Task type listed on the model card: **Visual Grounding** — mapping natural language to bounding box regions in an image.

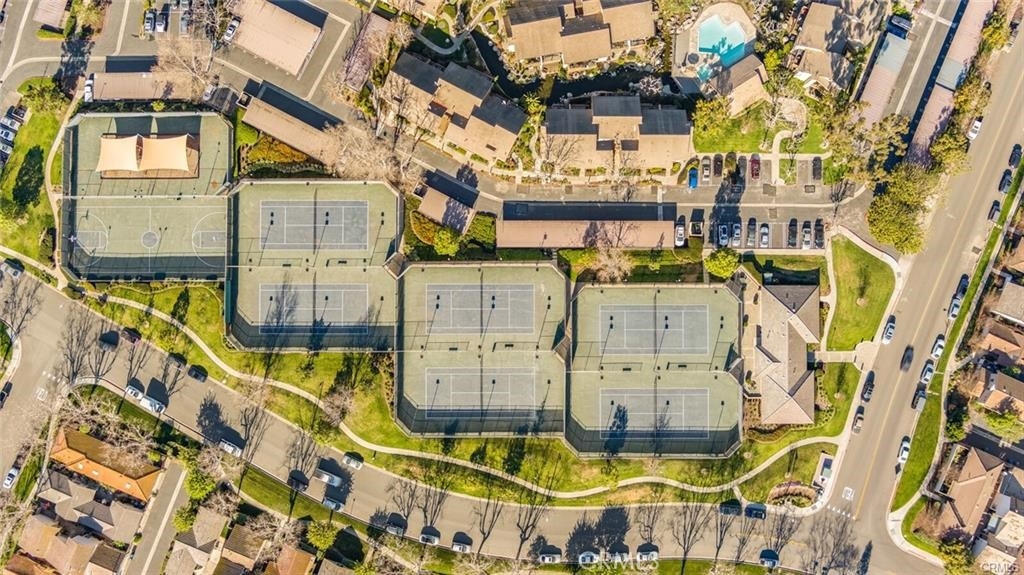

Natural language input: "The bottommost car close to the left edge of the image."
[2,468,17,489]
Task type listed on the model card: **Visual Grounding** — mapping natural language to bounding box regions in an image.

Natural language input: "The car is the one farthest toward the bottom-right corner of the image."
[898,441,912,463]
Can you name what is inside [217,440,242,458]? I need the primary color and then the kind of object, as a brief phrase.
white vehicle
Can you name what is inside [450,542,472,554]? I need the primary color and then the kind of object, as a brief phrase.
white vehicle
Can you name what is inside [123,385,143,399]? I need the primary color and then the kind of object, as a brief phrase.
white car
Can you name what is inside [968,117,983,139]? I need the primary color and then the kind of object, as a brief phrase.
white car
